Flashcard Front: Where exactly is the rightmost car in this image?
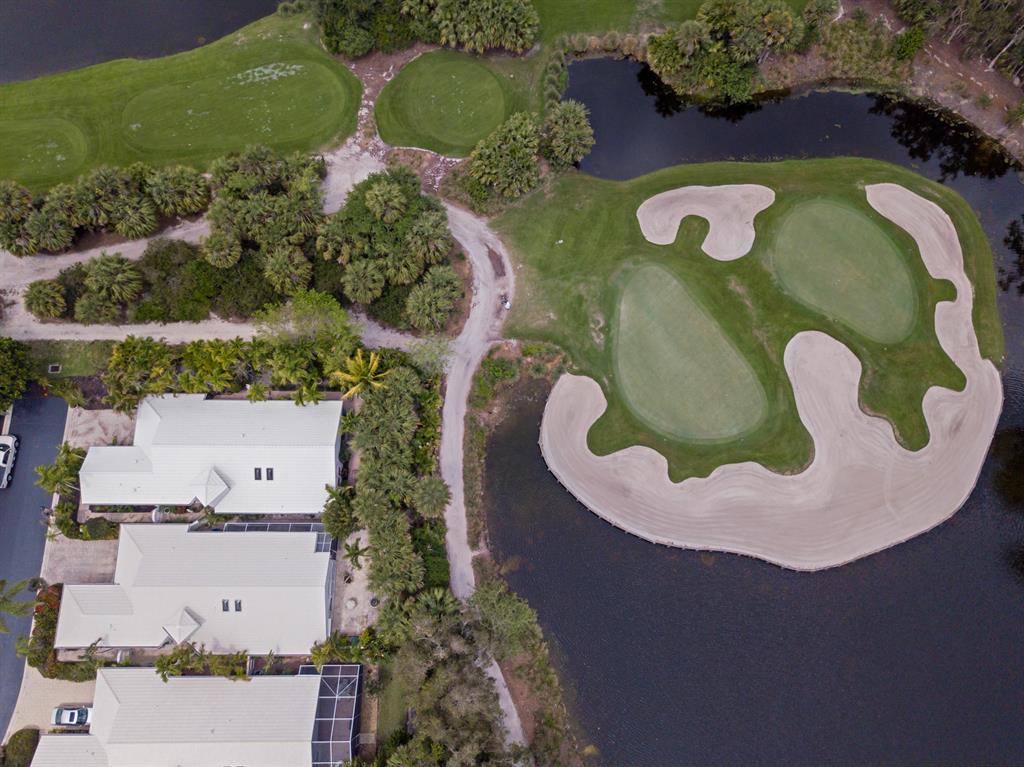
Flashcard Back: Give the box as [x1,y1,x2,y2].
[49,708,93,730]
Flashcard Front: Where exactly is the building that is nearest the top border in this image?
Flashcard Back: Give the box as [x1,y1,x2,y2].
[80,396,346,515]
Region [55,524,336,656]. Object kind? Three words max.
house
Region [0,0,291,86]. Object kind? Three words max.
pond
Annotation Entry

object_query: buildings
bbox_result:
[80,396,346,515]
[55,524,336,656]
[28,667,322,767]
